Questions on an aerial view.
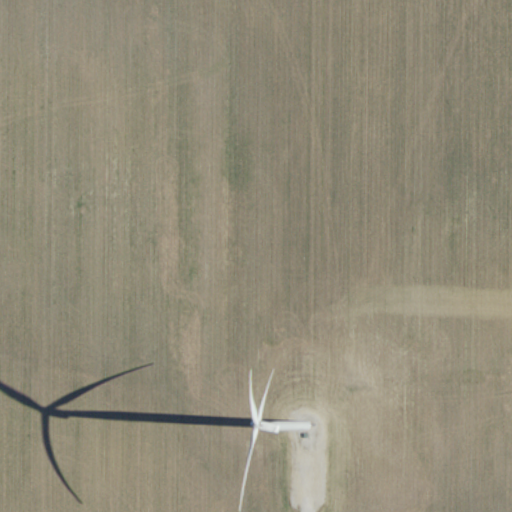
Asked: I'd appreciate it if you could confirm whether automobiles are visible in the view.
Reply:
No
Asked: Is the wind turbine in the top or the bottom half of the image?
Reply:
bottom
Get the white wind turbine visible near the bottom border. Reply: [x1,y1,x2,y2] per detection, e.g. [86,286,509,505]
[240,370,316,512]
